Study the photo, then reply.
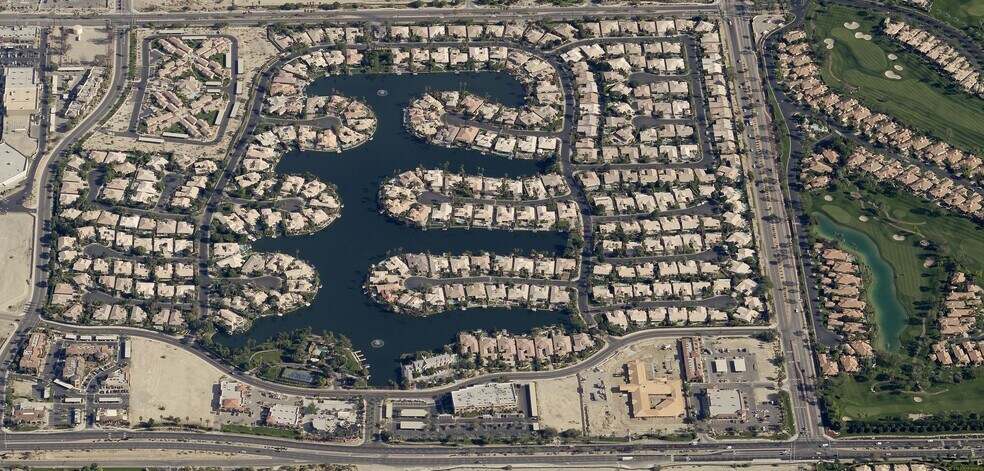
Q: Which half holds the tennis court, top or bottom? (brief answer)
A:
bottom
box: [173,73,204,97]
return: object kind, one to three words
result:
building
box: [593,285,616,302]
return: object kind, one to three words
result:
house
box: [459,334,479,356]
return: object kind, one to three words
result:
house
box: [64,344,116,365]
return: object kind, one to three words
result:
building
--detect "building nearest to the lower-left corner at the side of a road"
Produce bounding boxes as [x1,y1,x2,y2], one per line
[12,409,45,430]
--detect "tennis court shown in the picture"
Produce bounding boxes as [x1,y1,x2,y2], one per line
[278,362,320,384]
